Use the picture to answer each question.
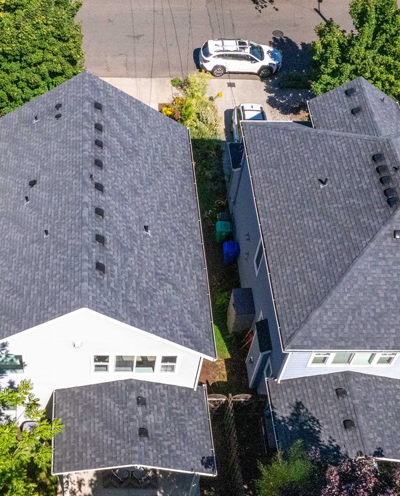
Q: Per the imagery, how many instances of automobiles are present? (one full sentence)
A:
There are 2 automobiles in the image.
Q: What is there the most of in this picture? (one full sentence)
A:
The largest share of the image is taken up by buildings.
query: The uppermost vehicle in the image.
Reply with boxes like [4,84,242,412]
[200,34,286,76]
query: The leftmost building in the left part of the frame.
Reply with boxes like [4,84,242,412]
[0,70,219,496]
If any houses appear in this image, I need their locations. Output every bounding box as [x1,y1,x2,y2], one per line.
[0,70,219,496]
[228,75,400,485]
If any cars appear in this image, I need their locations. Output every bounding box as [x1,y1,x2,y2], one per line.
[200,34,286,76]
[229,108,266,152]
